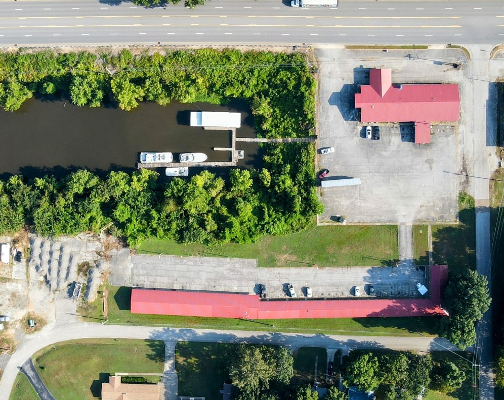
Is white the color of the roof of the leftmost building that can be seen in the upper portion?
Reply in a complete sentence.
No, from above the roof of the leftmost building that can be seen in the upper portion looks red.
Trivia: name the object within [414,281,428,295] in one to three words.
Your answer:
vehicle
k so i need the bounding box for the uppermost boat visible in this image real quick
[190,111,241,126]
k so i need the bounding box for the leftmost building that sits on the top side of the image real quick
[354,68,460,143]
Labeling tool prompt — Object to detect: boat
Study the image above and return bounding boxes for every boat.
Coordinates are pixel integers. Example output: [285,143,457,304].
[166,168,188,177]
[180,153,207,163]
[140,153,173,163]
[237,151,243,160]
[190,111,241,126]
